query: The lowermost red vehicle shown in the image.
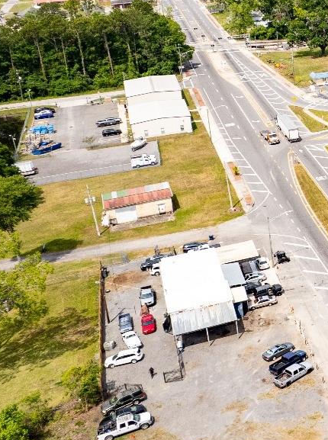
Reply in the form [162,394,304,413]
[142,314,156,335]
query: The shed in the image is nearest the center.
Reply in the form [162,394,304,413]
[104,190,174,223]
